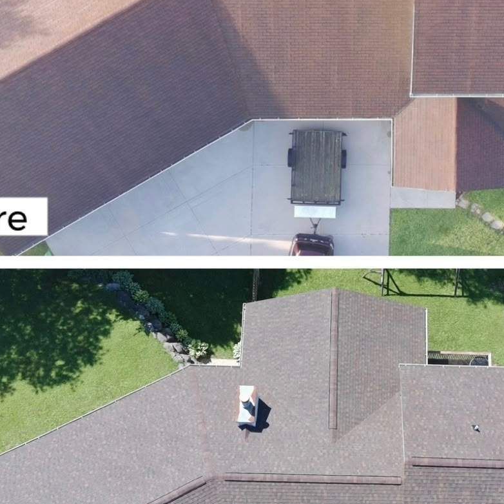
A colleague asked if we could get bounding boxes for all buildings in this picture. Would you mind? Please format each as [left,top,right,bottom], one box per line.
[0,288,504,504]
[0,0,504,261]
